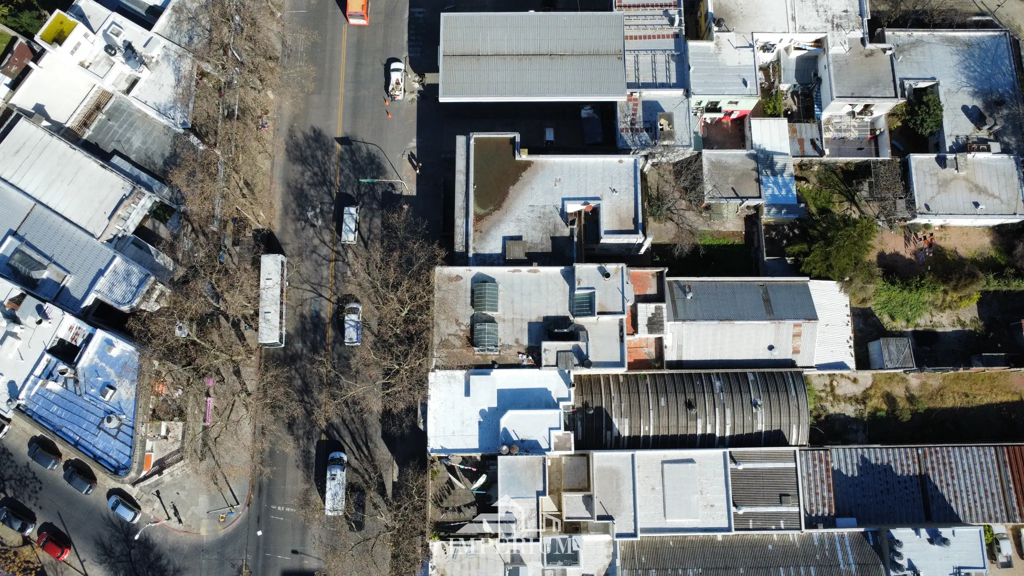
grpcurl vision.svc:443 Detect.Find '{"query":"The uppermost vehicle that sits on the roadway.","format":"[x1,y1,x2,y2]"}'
[346,0,371,25]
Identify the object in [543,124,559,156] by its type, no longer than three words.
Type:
vehicle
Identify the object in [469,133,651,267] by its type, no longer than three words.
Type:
building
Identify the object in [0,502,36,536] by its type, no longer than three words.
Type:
car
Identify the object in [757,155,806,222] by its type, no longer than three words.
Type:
shed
